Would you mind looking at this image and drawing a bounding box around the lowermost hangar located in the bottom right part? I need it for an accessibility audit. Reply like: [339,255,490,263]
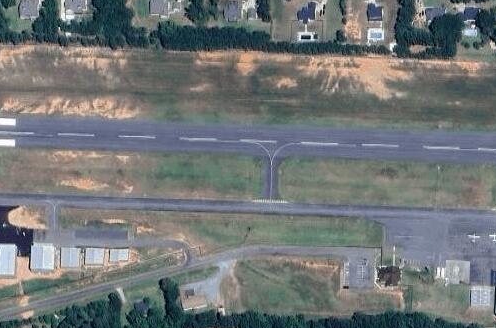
[471,287,490,307]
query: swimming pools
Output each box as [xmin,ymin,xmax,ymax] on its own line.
[463,28,476,36]
[368,28,383,41]
[299,32,318,41]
